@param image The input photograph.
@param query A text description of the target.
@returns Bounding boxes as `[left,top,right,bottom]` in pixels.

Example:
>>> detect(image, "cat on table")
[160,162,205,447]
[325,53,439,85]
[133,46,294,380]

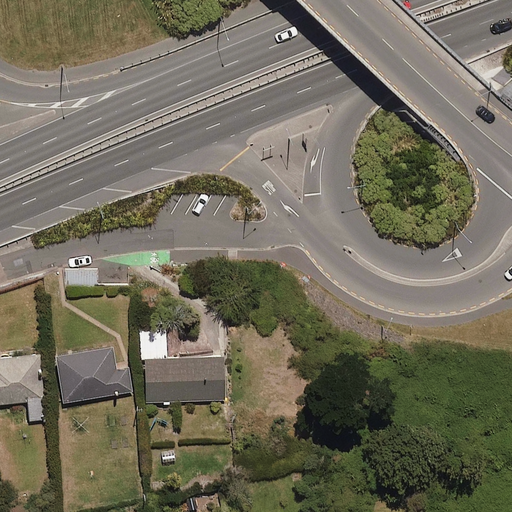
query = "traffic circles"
[198,96,512,318]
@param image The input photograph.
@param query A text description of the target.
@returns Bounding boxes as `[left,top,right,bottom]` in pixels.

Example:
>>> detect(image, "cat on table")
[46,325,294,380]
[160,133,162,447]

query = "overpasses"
[295,0,512,210]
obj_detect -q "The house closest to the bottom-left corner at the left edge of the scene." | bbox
[0,354,44,422]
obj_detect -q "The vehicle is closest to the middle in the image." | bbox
[192,194,208,216]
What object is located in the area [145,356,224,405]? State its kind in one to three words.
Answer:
house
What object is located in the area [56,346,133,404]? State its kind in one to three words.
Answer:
house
